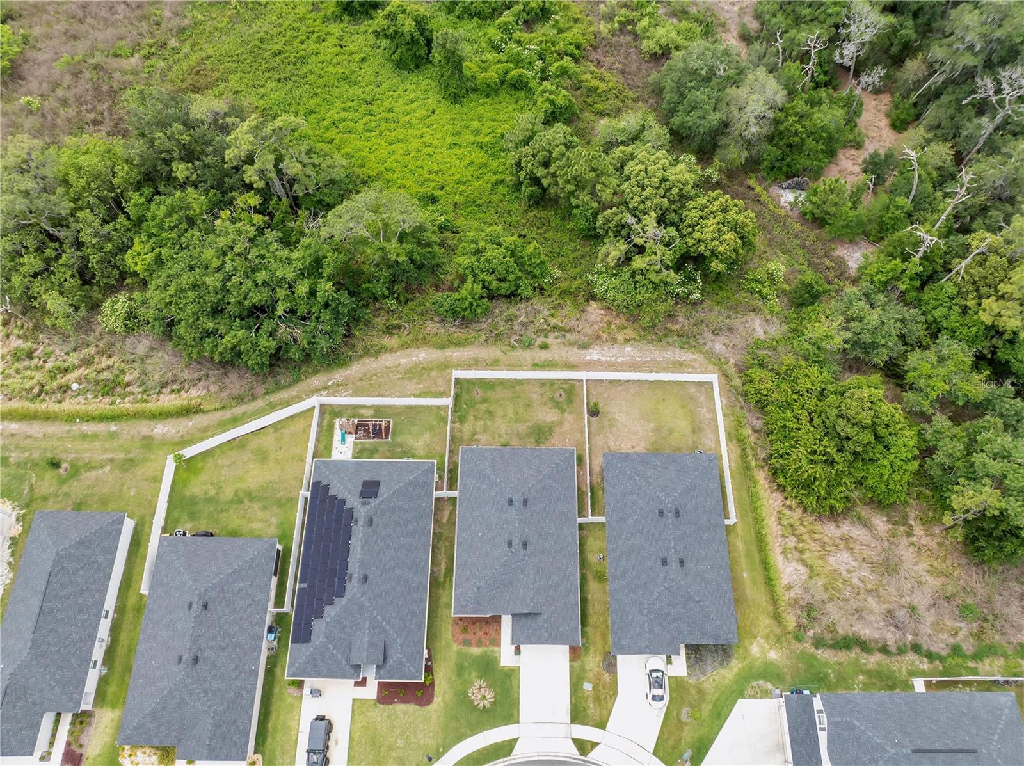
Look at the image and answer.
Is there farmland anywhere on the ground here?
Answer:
No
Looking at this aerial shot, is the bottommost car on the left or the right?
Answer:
left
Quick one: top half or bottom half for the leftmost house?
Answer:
bottom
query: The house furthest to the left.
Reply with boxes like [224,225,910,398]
[0,511,135,757]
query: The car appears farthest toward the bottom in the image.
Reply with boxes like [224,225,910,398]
[304,724,335,766]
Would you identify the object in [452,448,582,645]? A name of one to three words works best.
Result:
house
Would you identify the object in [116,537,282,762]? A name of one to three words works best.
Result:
house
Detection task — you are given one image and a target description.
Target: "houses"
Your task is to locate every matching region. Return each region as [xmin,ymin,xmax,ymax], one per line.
[116,537,282,762]
[0,511,135,757]
[775,692,1024,766]
[452,448,582,645]
[601,452,739,656]
[284,460,436,679]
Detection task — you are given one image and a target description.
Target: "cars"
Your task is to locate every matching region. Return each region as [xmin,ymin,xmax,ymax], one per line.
[645,655,669,709]
[304,724,335,766]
